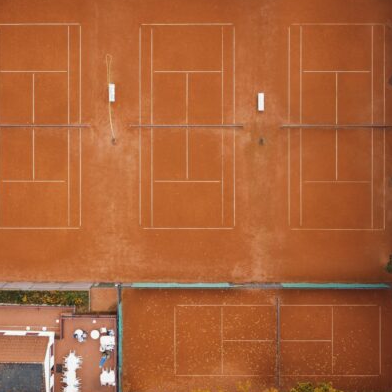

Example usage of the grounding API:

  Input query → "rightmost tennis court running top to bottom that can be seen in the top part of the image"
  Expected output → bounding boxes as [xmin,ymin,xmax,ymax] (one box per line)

[289,23,384,230]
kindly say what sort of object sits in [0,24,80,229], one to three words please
tennis court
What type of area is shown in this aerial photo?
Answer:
sports ground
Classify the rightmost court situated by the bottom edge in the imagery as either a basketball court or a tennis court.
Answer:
tennis court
